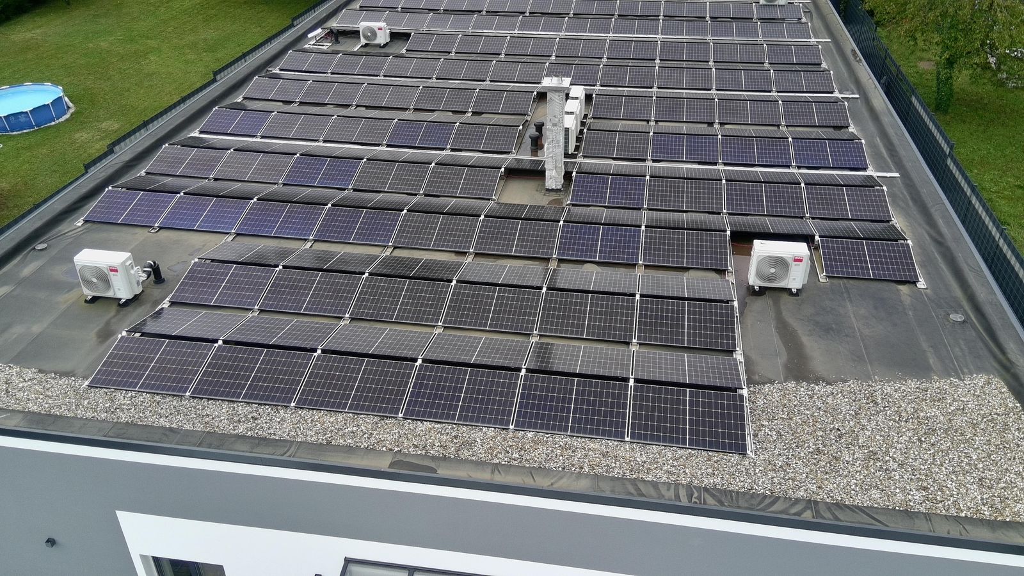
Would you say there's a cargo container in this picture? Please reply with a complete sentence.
No, the photo shows no cargo container.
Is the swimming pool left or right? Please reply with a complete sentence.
The swimming pool is on the left side of the image.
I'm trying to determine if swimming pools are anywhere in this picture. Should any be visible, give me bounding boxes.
[0,81,80,135]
